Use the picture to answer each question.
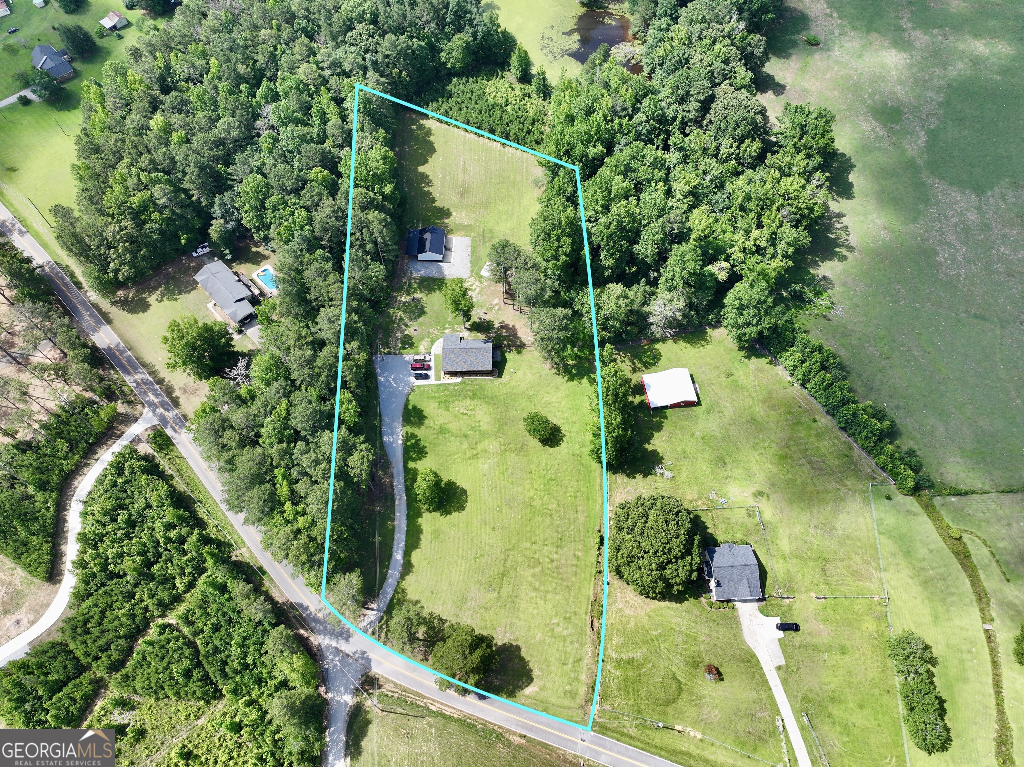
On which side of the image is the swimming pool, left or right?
left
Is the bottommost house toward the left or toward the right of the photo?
right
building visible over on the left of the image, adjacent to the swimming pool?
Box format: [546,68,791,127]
[192,261,263,327]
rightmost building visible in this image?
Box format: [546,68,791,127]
[702,543,762,602]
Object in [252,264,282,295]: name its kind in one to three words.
swimming pool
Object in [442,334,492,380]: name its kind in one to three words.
house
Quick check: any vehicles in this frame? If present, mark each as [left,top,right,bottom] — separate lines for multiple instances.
[413,355,430,363]
[413,372,429,381]
[192,245,212,258]
[411,363,430,372]
[7,28,20,34]
[771,622,800,633]
[245,315,254,322]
